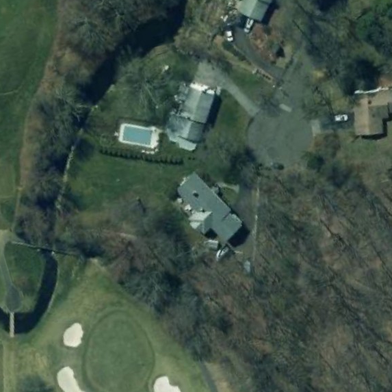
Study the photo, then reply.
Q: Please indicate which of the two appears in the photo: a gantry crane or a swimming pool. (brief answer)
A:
swimming pool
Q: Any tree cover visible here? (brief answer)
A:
Yes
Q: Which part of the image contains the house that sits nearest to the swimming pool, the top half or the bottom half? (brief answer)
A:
top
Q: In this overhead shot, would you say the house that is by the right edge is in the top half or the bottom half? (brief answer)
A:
top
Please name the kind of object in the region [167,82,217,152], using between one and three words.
house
